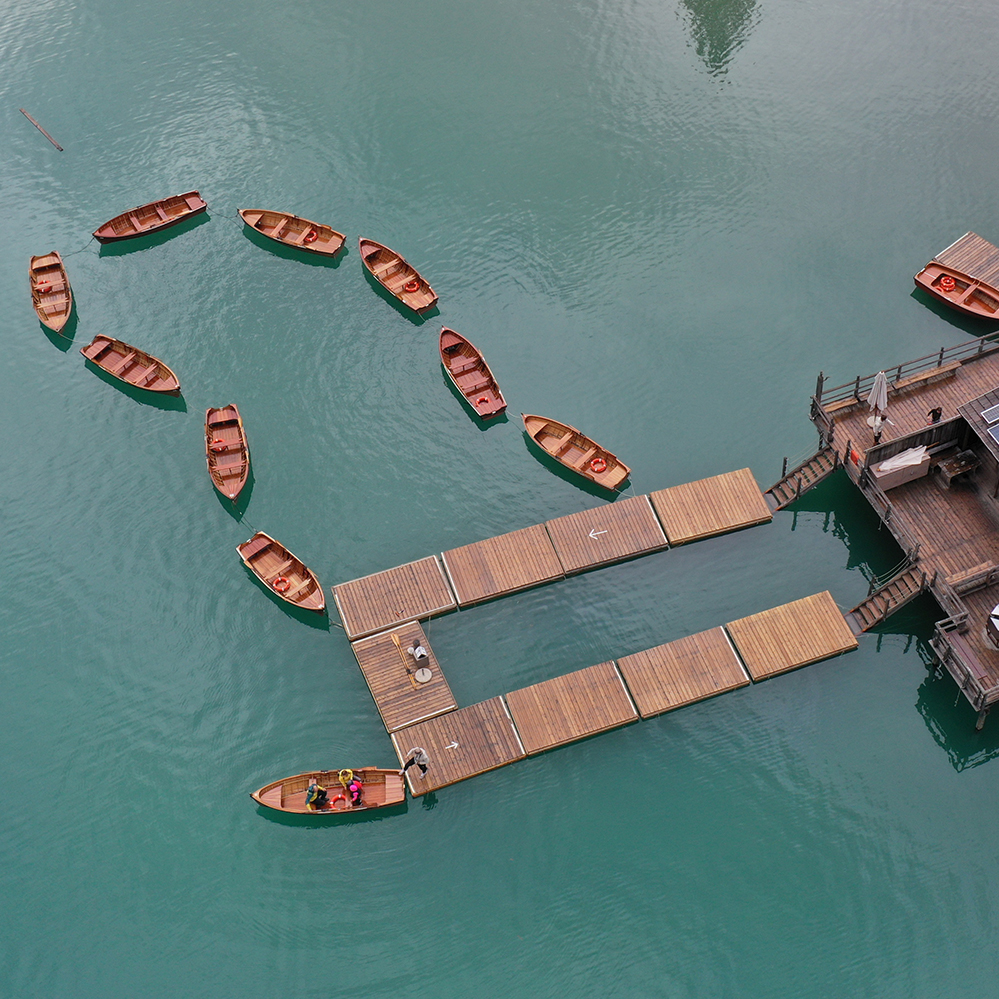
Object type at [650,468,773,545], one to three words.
pier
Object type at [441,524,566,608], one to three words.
pier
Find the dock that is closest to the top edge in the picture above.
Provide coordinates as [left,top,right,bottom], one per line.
[934,230,999,300]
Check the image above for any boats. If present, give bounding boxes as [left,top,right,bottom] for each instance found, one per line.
[237,206,346,259]
[28,250,72,336]
[915,260,999,322]
[358,234,439,315]
[440,323,507,420]
[234,528,328,617]
[79,333,180,394]
[204,402,249,501]
[92,188,207,243]
[522,411,631,492]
